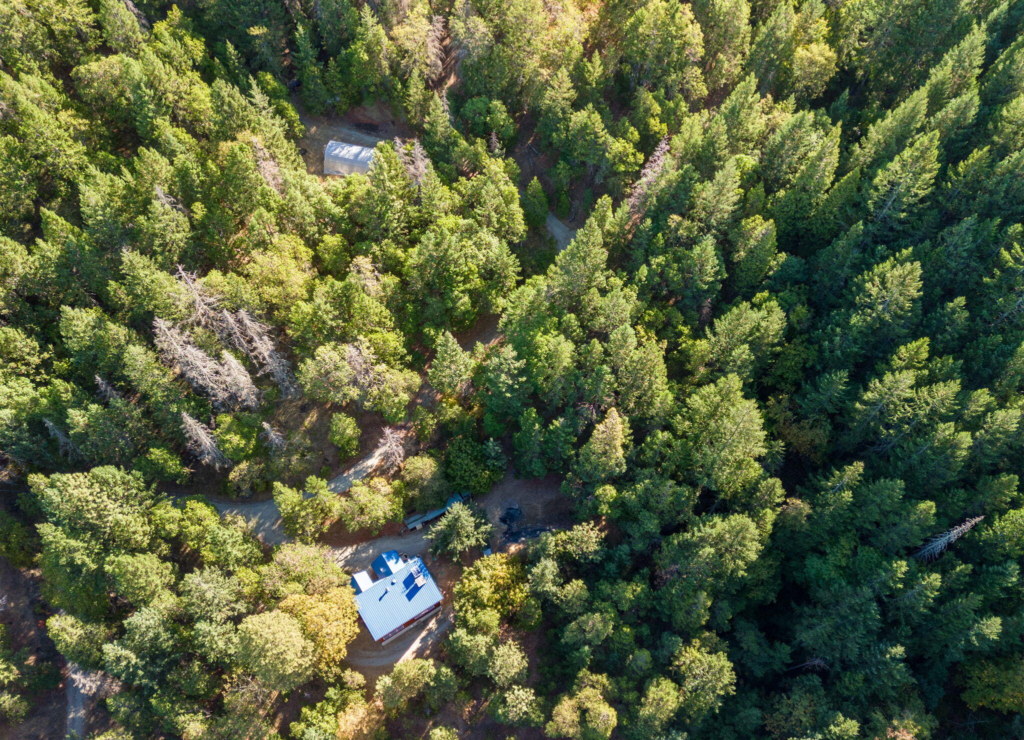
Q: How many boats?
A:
0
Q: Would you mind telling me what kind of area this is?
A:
forest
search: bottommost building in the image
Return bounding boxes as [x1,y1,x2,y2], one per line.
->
[343,550,445,645]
